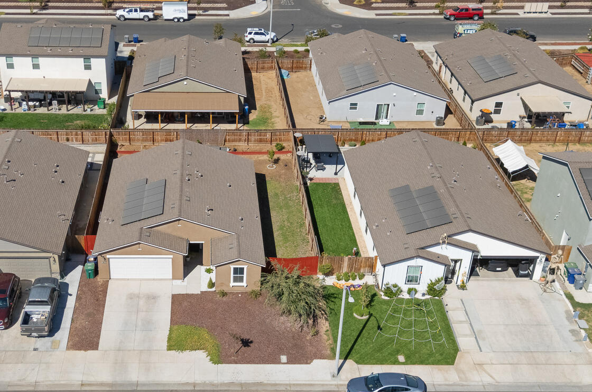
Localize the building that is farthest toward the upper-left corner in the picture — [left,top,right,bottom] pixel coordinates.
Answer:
[0,12,116,107]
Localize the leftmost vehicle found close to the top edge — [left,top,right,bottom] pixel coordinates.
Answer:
[115,5,158,22]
